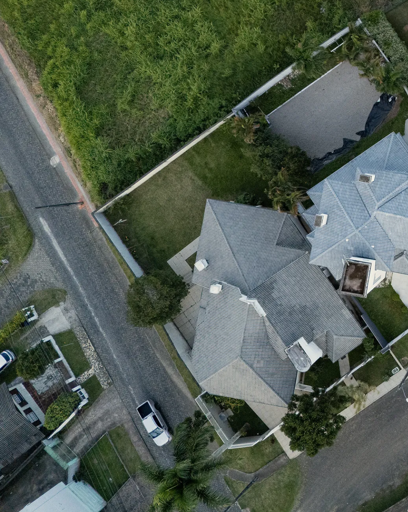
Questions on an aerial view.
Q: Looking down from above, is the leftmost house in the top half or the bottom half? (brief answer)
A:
bottom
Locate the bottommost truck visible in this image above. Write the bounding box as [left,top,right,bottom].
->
[135,398,173,445]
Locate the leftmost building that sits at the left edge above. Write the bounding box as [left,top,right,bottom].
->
[0,376,57,470]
